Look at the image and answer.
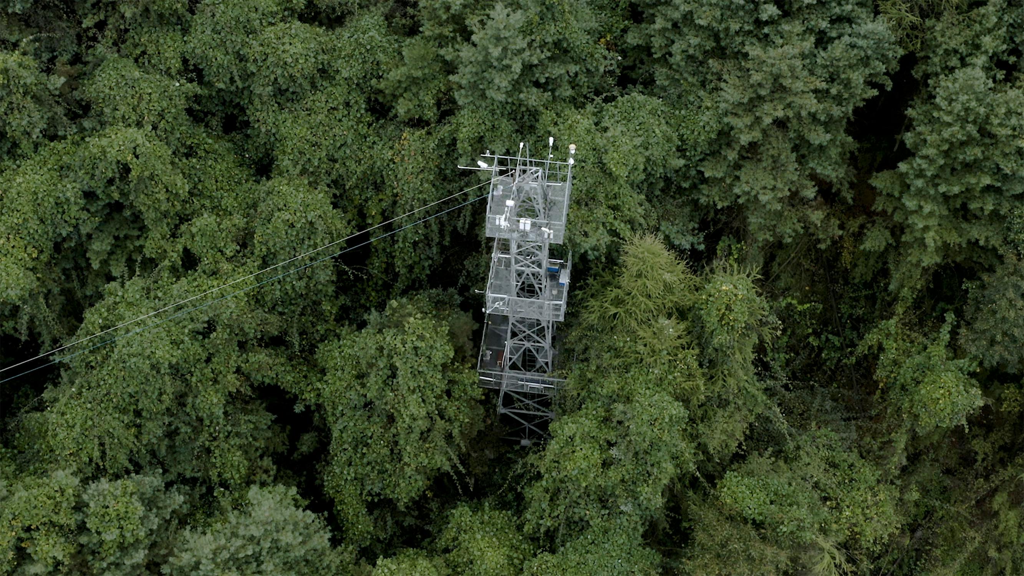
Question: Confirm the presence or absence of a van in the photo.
No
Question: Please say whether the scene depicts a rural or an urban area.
rural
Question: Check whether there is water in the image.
No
